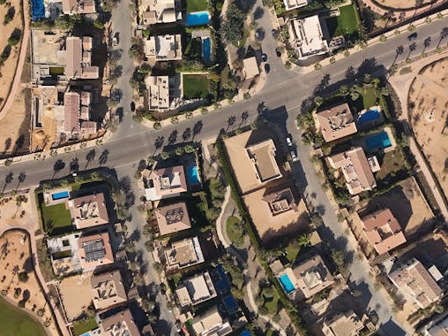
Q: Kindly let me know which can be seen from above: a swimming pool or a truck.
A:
swimming pool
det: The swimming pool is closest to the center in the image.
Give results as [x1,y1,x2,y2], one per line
[188,162,201,185]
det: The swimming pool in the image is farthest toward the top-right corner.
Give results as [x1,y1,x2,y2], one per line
[362,108,385,127]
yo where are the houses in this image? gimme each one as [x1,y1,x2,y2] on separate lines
[290,17,343,61]
[385,250,447,308]
[177,267,216,308]
[167,233,205,269]
[292,253,334,298]
[78,227,115,266]
[192,304,235,336]
[143,0,182,24]
[73,190,110,229]
[146,35,182,61]
[150,74,179,109]
[100,303,142,336]
[360,207,406,254]
[57,36,102,81]
[141,164,188,201]
[284,0,314,10]
[321,305,376,336]
[248,136,281,182]
[43,86,99,135]
[326,143,382,191]
[156,199,191,235]
[90,265,130,311]
[316,103,358,141]
[429,309,448,336]
[264,183,307,217]
[53,0,98,14]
